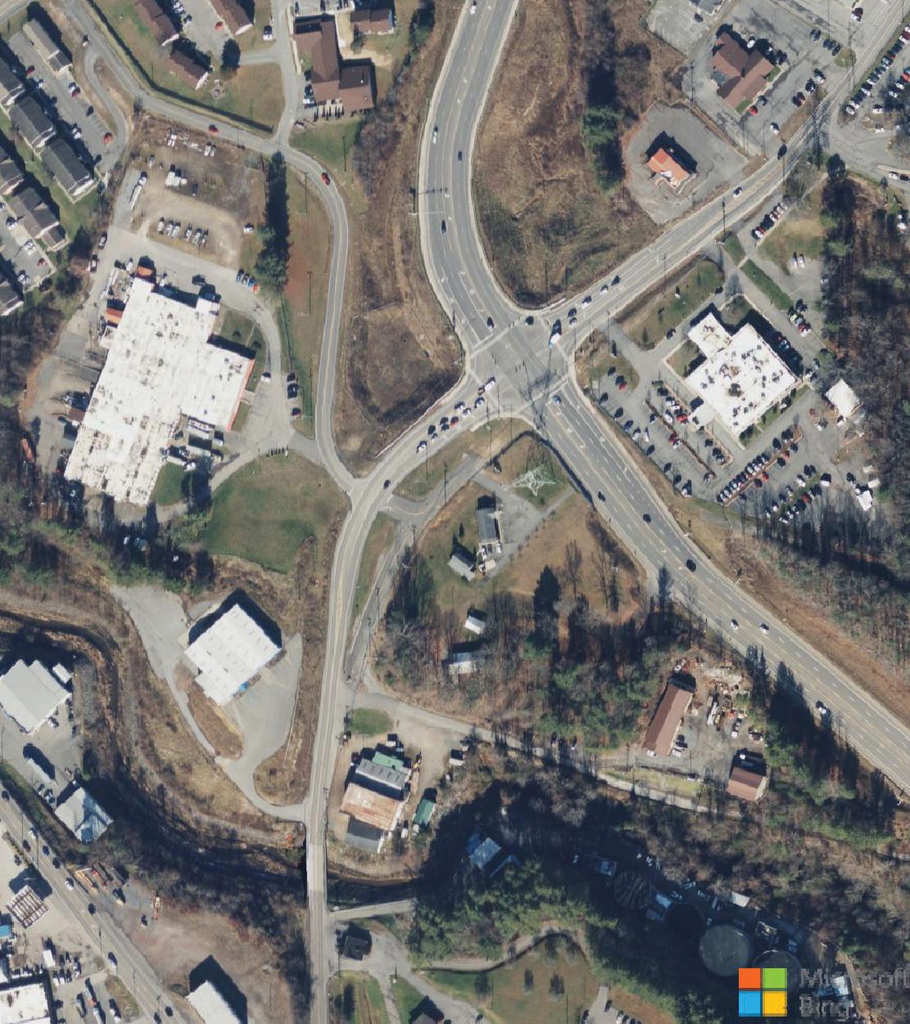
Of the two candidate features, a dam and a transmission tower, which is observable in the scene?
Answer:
transmission tower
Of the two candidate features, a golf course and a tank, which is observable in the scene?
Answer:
tank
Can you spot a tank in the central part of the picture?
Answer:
No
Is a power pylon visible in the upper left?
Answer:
No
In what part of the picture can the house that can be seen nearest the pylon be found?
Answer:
center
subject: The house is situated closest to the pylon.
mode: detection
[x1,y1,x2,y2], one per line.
[477,509,507,547]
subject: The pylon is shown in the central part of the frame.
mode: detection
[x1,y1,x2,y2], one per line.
[509,460,561,500]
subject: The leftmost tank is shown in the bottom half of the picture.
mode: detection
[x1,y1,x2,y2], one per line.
[613,870,653,910]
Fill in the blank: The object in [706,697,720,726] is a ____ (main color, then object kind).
white vehicle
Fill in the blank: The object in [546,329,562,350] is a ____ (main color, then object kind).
white vehicle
